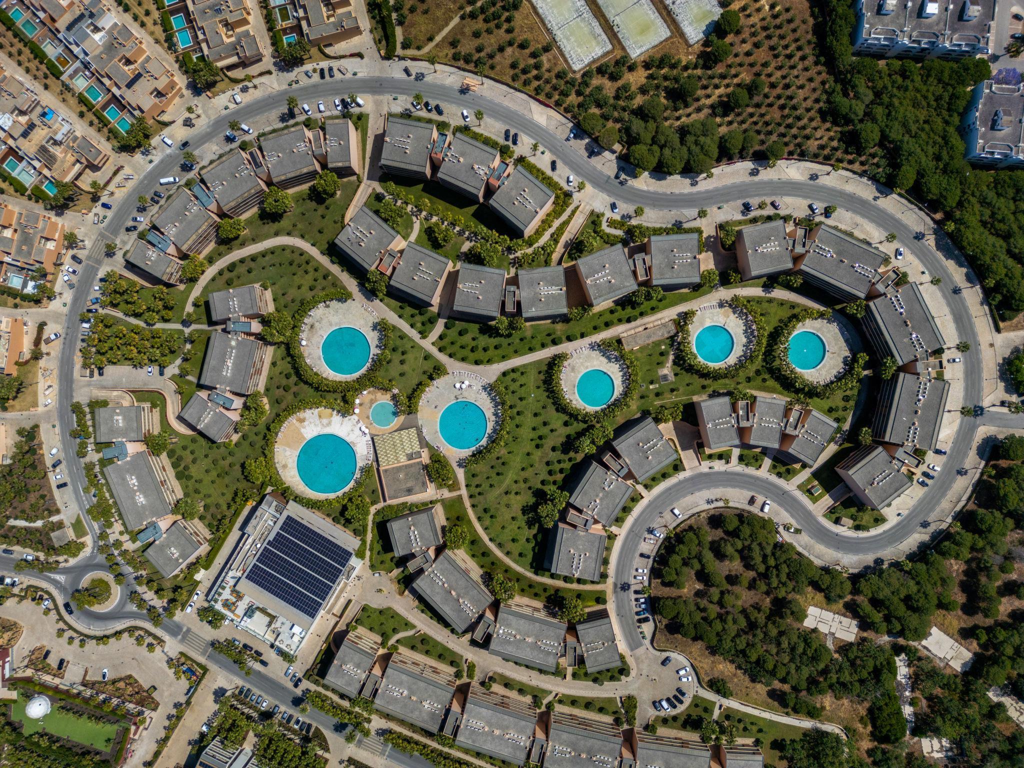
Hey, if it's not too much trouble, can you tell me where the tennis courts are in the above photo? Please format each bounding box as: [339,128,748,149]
[597,0,672,59]
[663,0,724,46]
[530,0,613,72]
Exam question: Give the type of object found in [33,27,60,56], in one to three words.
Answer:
swimming pool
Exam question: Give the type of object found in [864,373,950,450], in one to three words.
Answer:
building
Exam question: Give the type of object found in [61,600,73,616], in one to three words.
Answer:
vehicle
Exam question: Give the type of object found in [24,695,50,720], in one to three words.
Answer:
tent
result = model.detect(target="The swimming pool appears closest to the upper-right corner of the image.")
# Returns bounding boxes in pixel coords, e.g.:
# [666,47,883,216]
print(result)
[786,318,852,382]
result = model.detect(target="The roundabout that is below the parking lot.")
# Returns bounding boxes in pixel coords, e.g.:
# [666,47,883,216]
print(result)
[62,546,149,630]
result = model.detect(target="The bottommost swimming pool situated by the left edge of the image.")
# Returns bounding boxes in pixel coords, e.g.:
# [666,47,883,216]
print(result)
[0,262,26,291]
